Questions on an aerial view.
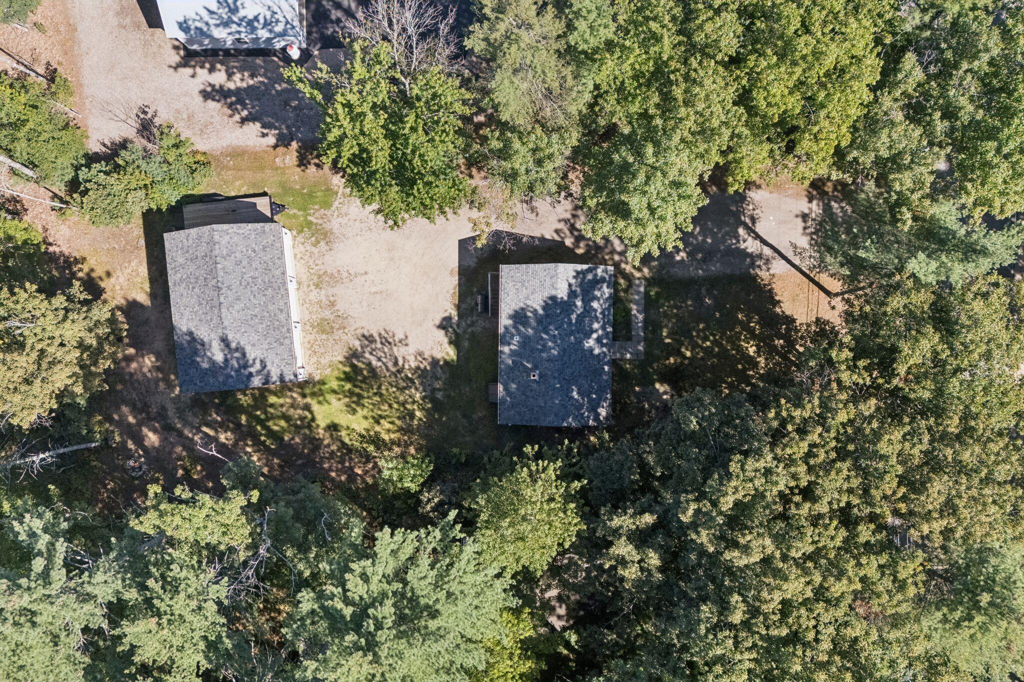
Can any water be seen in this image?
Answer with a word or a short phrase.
No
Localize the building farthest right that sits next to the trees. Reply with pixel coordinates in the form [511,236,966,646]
[496,262,614,428]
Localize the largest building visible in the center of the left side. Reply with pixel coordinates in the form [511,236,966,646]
[164,222,310,394]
